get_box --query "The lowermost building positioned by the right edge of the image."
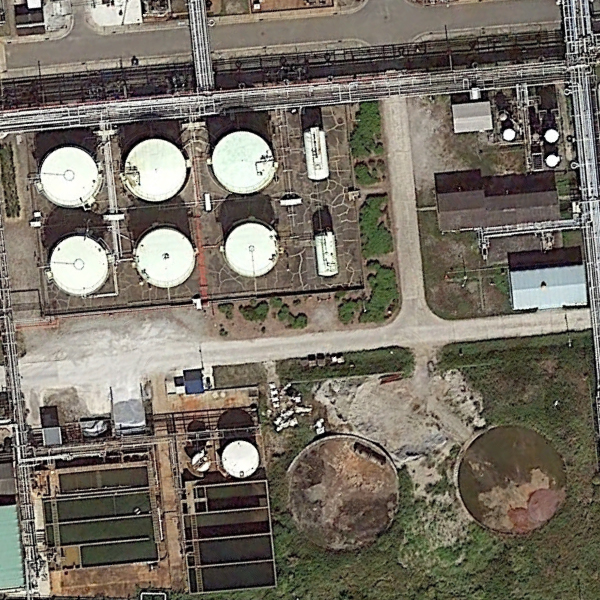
[510,264,587,309]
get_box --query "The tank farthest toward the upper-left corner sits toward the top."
[36,145,103,210]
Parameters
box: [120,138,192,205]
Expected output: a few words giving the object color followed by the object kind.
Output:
white storage tank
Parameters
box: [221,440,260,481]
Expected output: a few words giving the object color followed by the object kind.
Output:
white storage tank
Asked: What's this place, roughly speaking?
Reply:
industrial area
